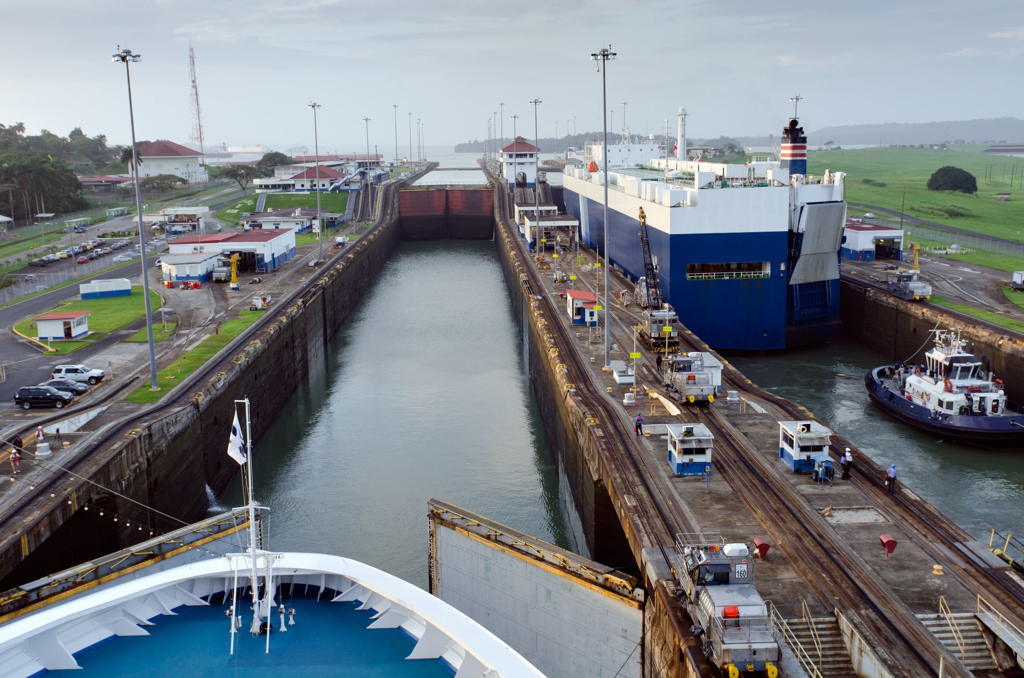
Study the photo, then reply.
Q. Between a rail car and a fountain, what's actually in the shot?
rail car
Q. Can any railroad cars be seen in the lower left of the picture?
No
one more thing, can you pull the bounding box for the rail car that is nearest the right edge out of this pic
[886,267,926,300]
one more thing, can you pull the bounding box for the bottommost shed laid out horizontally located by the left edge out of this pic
[20,298,103,342]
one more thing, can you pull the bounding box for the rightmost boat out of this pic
[854,314,1024,459]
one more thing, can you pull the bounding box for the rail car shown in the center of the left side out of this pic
[211,255,231,279]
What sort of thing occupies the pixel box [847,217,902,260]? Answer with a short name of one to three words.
building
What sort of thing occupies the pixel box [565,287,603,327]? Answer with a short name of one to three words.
shed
